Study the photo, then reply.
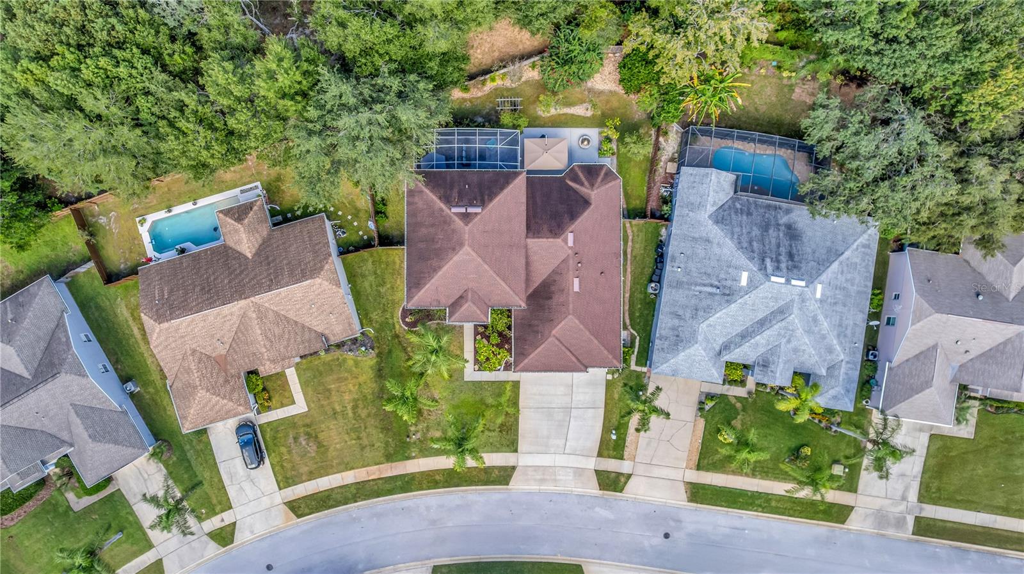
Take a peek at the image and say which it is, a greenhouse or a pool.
pool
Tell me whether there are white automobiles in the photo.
No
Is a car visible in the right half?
No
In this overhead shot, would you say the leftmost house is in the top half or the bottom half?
bottom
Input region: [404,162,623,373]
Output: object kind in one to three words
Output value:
house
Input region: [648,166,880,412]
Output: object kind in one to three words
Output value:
house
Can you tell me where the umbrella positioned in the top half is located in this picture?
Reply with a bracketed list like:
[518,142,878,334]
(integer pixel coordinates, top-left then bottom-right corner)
[524,127,568,170]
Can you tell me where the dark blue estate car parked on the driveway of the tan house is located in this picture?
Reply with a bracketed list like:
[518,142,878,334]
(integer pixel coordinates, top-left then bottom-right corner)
[234,421,266,472]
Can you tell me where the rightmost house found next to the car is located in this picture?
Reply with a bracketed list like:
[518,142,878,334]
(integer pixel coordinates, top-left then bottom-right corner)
[138,195,373,435]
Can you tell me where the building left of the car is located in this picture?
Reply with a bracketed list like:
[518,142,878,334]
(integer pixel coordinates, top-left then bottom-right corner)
[0,273,157,494]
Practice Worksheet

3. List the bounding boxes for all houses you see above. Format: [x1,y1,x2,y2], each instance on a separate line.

[871,222,1024,428]
[138,195,373,435]
[404,162,623,373]
[648,166,880,412]
[0,273,157,494]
